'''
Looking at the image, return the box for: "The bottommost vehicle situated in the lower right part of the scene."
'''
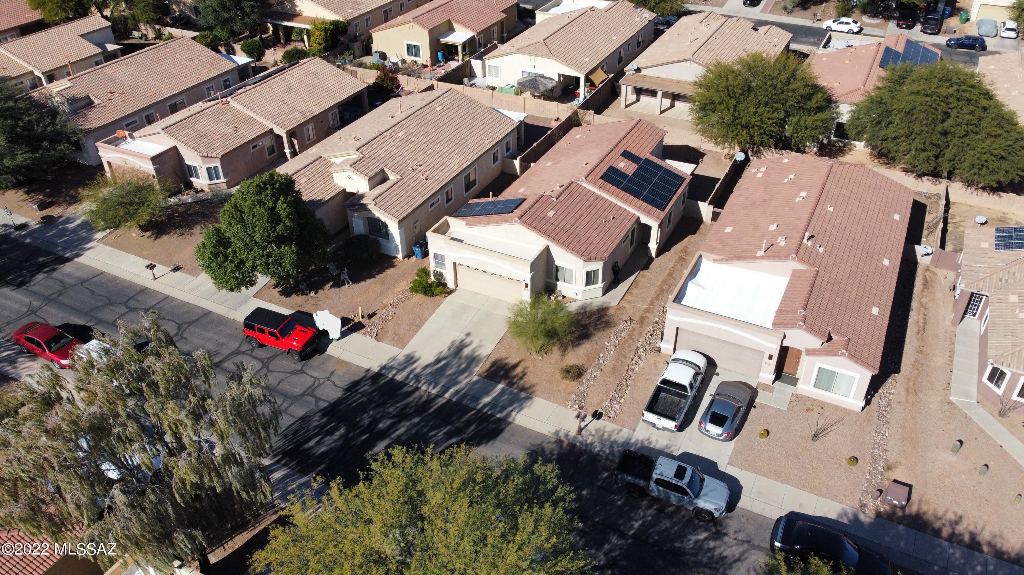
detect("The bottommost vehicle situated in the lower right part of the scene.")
[766,515,890,575]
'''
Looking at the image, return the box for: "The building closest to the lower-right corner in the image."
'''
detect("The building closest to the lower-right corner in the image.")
[945,226,1024,421]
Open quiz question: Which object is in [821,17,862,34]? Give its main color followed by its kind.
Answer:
white car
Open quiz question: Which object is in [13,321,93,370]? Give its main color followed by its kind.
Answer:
red car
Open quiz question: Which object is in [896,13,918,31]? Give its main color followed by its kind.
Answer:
black car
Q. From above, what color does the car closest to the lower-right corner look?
black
